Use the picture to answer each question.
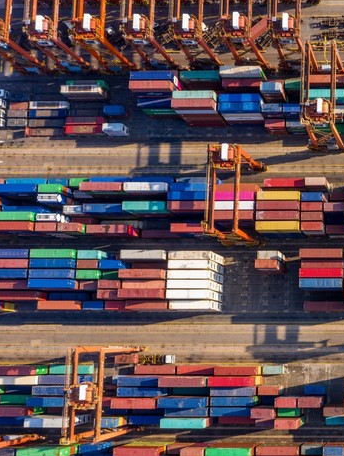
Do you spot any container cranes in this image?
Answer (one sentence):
Yes, there's a container crane down there.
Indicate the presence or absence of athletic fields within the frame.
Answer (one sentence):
No, there isn't any athletic field down there.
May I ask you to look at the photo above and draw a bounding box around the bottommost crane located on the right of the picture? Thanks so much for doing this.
[203,142,268,243]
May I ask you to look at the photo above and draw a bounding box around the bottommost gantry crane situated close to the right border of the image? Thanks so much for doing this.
[298,39,344,147]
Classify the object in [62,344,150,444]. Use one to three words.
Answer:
container crane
